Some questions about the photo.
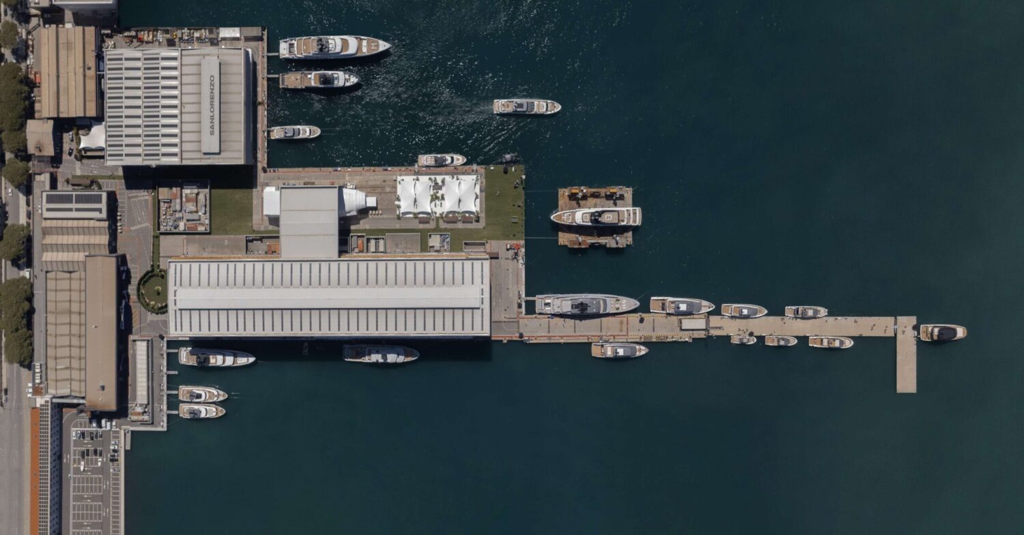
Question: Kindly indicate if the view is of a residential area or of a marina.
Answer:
marina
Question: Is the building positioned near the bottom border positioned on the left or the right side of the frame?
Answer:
left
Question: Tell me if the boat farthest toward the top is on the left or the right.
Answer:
left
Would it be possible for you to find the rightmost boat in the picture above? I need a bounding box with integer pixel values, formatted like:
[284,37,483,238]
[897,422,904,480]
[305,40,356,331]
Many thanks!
[919,325,968,341]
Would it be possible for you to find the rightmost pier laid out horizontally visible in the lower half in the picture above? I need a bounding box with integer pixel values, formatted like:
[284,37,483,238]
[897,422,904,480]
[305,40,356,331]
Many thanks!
[710,316,895,336]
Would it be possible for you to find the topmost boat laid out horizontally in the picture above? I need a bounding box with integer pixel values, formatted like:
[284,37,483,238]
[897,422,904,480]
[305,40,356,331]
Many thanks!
[281,34,391,57]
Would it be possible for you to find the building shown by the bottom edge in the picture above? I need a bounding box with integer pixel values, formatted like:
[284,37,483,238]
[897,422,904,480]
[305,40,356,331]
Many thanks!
[29,395,62,535]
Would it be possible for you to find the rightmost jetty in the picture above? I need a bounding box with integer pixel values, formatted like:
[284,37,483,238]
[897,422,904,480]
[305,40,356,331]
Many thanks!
[895,316,916,393]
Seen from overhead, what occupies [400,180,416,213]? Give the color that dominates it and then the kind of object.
white tent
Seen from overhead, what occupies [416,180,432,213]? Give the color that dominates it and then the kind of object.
white tent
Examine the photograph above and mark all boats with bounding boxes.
[271,125,321,138]
[591,343,648,357]
[784,306,828,318]
[344,345,418,363]
[650,297,715,313]
[281,34,391,57]
[493,99,561,114]
[809,337,854,348]
[765,336,797,346]
[180,403,225,418]
[730,335,756,344]
[919,325,968,341]
[180,386,227,402]
[721,304,767,317]
[280,71,359,88]
[536,295,640,314]
[418,154,466,166]
[551,208,641,227]
[180,349,255,367]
